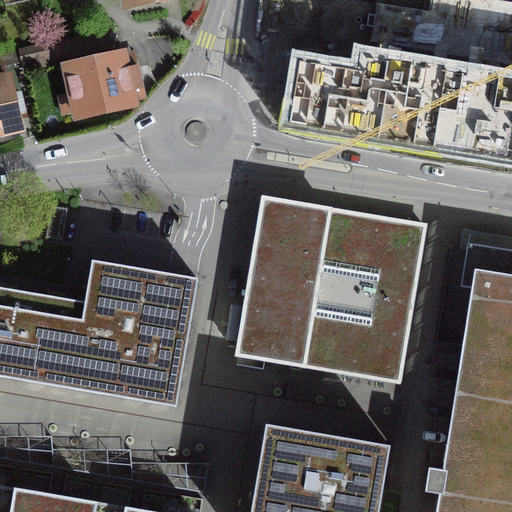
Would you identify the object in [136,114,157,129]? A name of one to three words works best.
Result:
car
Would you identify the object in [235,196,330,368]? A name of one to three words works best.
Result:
building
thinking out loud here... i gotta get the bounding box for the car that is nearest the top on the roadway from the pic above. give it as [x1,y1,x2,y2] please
[170,76,187,100]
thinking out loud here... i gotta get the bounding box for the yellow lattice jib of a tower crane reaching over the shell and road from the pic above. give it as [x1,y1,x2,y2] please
[300,64,512,170]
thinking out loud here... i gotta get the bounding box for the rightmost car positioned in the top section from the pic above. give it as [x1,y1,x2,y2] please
[421,164,446,176]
